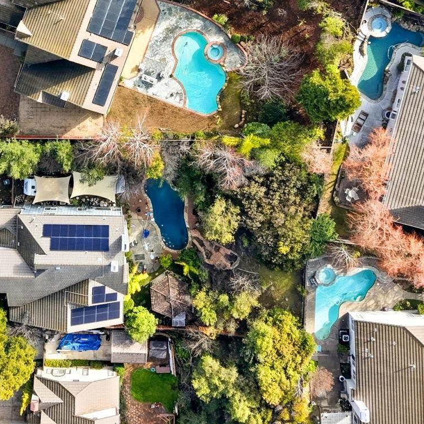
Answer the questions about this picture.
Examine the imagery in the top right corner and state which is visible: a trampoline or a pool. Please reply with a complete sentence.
What appears in the top right corner is a pool.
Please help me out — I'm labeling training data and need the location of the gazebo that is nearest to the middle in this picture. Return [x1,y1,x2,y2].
[153,277,191,323]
